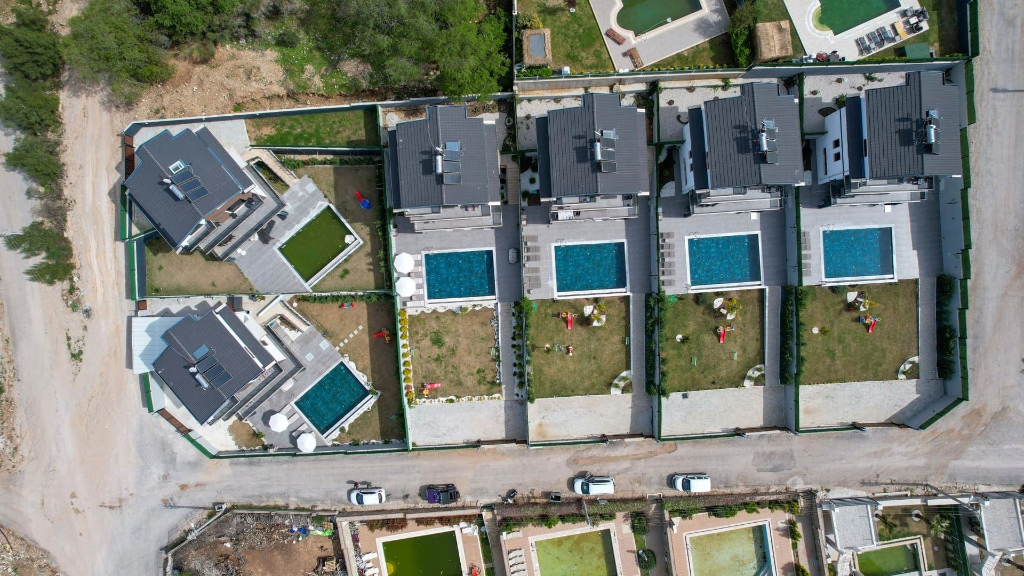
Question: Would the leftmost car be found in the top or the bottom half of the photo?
bottom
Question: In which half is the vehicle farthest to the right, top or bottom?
bottom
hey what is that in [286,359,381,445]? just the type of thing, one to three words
swimming pool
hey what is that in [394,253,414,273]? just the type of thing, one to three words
umbrella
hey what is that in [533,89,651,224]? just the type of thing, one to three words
house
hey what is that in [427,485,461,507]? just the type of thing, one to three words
car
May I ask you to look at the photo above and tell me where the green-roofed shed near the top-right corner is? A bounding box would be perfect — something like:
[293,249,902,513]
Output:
[897,42,932,59]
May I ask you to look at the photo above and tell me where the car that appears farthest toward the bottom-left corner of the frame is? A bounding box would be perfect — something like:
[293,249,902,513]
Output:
[350,486,387,507]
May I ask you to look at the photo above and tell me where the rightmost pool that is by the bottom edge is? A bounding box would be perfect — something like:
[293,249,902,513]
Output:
[856,536,926,576]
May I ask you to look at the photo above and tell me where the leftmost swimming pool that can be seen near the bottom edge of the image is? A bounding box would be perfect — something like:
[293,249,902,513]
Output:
[376,525,471,576]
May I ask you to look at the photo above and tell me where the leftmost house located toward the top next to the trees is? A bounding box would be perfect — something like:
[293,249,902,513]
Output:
[119,122,290,261]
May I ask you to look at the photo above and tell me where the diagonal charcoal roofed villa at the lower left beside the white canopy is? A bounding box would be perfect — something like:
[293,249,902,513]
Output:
[143,296,308,428]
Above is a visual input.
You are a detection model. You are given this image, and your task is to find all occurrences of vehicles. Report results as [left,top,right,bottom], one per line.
[671,472,713,494]
[350,486,387,507]
[574,470,615,497]
[427,485,461,507]
[507,489,518,505]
